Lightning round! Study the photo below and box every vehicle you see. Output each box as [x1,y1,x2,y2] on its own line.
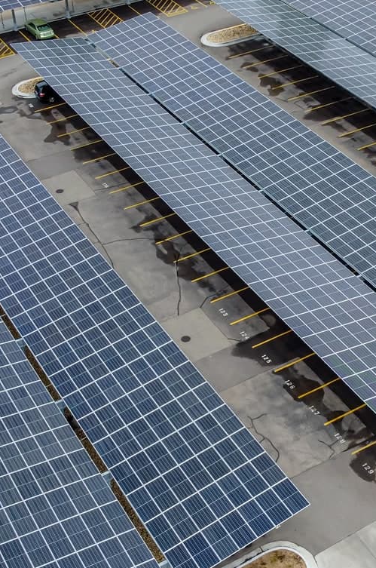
[35,80,61,104]
[22,18,53,40]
